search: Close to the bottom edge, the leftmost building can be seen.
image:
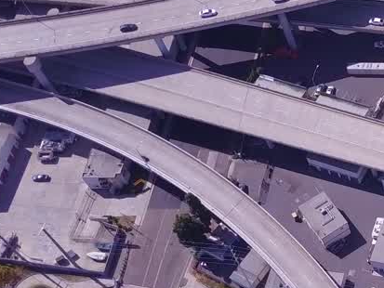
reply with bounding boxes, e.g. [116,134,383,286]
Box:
[200,239,249,282]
